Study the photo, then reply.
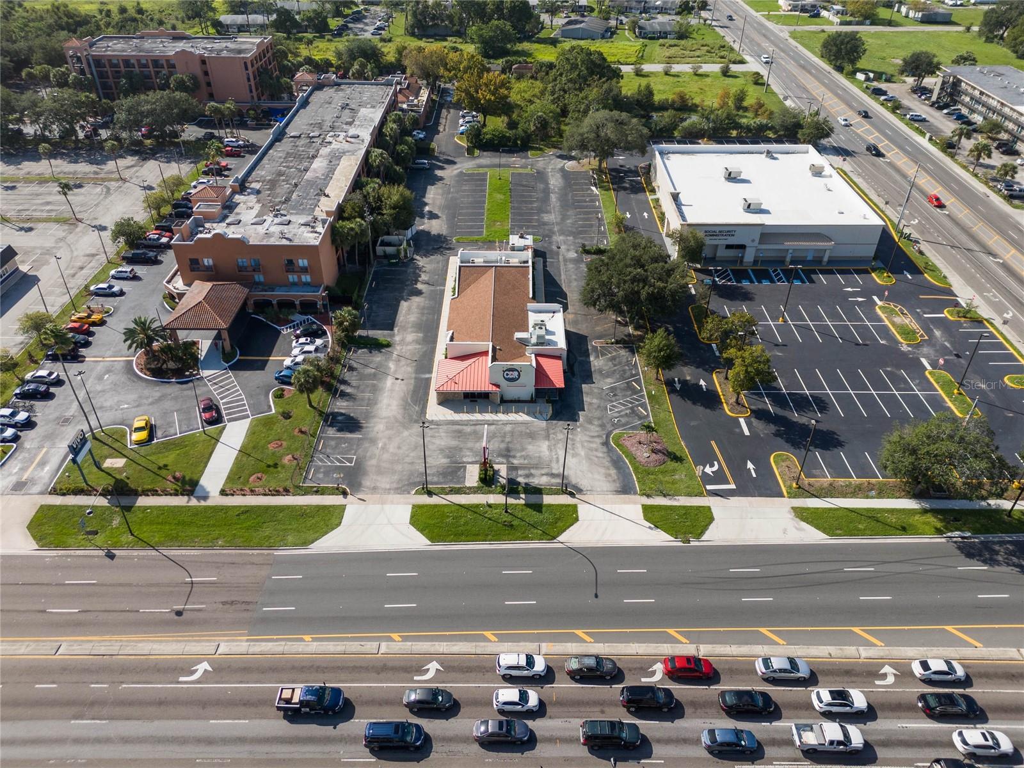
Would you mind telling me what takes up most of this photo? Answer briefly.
paved ground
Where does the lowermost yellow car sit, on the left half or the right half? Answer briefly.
left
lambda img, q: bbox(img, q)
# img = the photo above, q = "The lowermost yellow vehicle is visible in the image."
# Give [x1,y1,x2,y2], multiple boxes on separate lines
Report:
[128,414,153,441]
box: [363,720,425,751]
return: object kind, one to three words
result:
vehicle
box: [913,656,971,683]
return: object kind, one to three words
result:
car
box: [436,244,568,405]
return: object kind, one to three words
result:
building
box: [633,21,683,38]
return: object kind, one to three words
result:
house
